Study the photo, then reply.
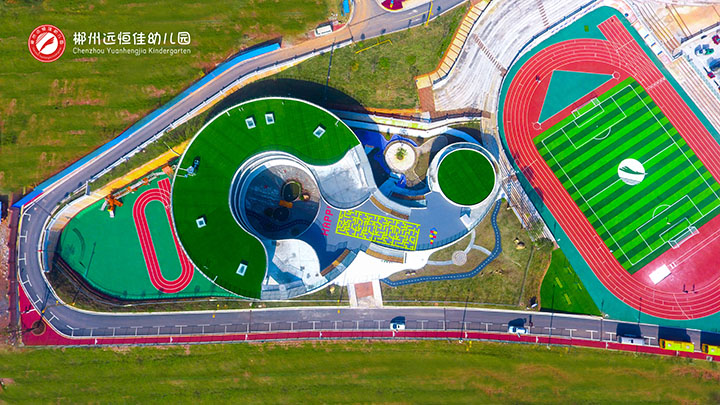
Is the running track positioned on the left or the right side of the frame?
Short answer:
right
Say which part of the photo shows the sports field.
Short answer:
right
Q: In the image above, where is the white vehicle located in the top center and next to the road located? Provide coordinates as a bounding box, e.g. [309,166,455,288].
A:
[314,27,334,40]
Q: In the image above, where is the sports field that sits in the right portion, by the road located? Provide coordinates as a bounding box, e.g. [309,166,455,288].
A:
[498,6,720,330]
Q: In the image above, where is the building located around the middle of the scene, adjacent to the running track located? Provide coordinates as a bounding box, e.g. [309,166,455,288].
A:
[169,96,502,302]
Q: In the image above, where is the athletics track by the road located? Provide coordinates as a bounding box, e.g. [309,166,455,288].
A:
[501,13,720,319]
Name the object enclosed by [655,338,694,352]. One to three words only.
vehicle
